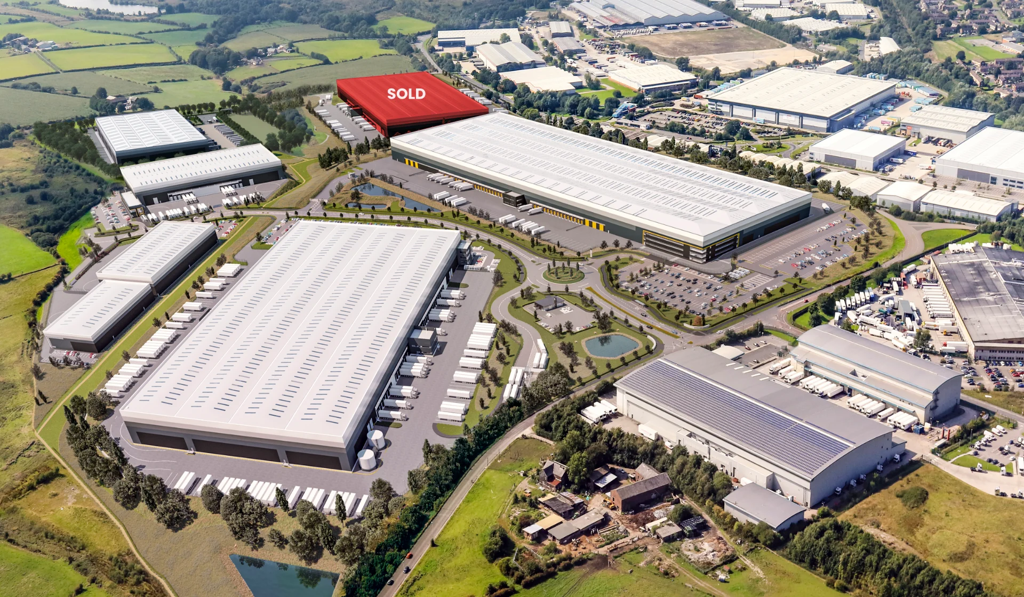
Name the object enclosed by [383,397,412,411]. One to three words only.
vehicle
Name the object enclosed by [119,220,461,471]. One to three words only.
warehouse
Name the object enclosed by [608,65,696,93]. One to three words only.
shed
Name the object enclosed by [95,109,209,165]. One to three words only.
building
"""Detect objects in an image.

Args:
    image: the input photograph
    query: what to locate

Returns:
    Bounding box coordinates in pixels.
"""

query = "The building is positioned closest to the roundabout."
[532,291,566,313]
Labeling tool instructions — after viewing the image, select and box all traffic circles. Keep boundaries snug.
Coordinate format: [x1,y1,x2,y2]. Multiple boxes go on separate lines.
[528,260,600,290]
